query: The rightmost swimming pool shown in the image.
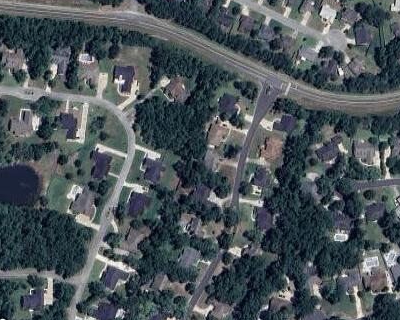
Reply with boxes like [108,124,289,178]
[383,247,398,264]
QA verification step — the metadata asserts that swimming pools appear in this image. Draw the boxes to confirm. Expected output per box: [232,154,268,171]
[335,233,347,242]
[363,254,380,269]
[383,247,398,264]
[69,183,81,199]
[80,53,92,61]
